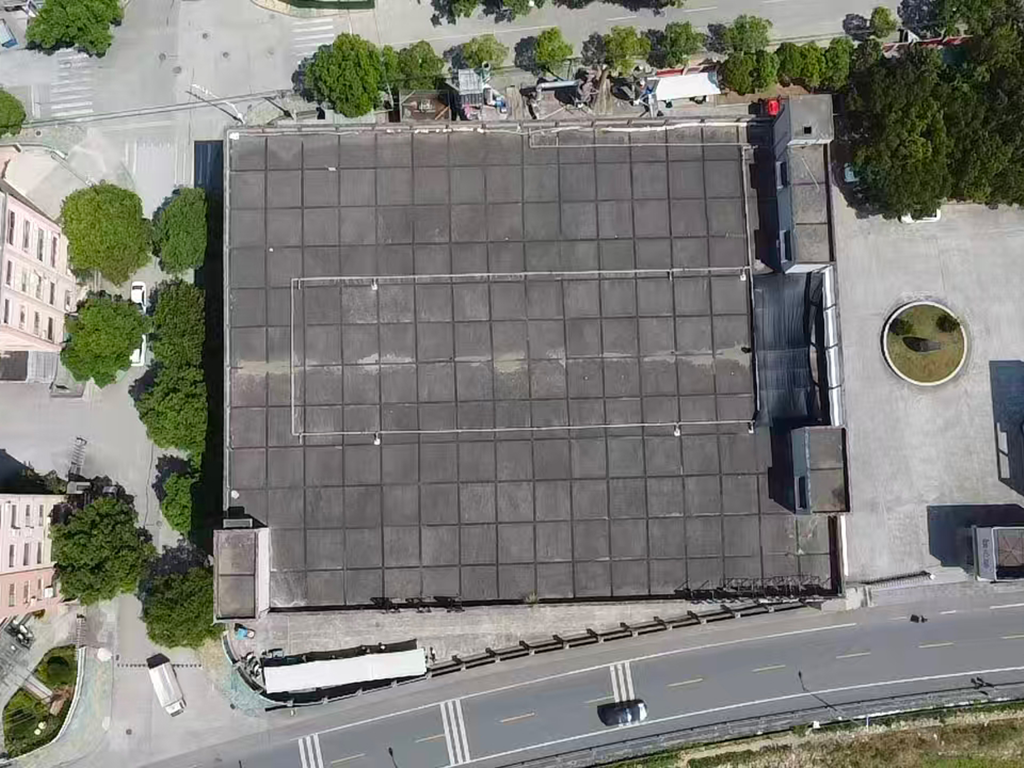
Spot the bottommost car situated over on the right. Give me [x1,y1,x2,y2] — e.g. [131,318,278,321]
[601,701,648,727]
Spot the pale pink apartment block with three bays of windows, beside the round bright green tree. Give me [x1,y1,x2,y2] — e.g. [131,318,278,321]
[0,197,75,348]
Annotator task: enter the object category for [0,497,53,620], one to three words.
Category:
building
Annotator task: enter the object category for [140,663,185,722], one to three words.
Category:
truck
